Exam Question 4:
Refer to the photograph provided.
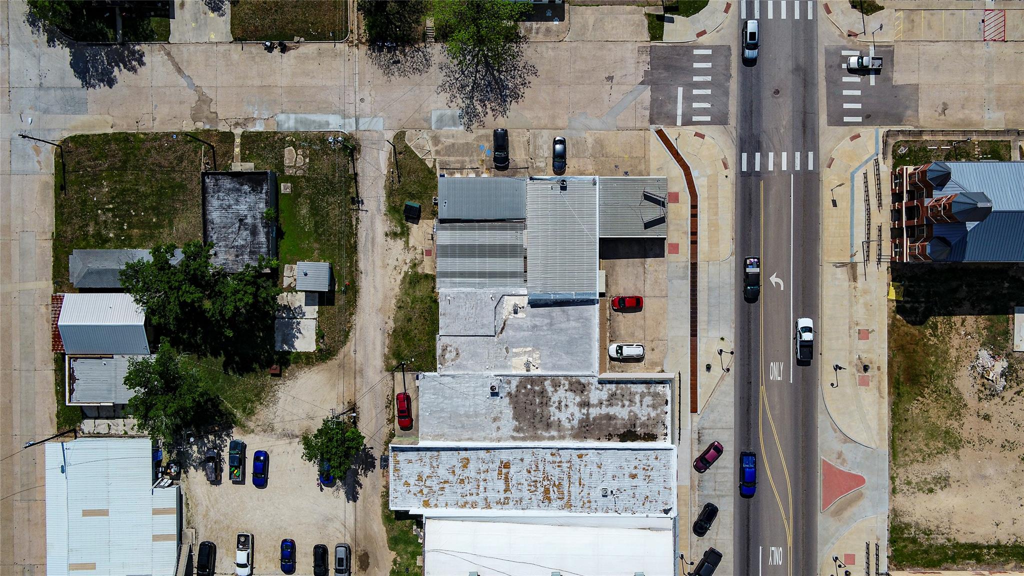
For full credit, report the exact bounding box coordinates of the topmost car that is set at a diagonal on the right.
[694,439,724,473]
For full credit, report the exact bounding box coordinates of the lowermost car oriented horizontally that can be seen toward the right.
[608,343,645,360]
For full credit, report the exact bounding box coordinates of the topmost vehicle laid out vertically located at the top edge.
[741,20,760,59]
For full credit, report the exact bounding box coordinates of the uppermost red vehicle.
[610,295,644,310]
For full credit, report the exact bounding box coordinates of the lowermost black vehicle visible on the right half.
[688,546,721,576]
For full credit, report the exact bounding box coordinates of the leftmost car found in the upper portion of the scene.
[492,128,510,169]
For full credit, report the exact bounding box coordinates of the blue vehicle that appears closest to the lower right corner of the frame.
[739,451,758,496]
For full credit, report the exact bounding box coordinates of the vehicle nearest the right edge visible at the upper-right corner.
[845,54,883,71]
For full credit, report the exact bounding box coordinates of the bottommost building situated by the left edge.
[46,433,185,576]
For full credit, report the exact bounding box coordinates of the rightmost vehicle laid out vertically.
[795,318,814,360]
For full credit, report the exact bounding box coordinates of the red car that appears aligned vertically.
[396,391,412,427]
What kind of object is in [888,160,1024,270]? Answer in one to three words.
building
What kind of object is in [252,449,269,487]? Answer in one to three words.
car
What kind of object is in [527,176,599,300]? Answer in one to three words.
building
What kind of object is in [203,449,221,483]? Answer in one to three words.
vehicle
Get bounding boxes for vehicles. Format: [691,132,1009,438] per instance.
[739,451,758,496]
[236,533,254,576]
[313,543,329,576]
[195,540,215,576]
[551,135,567,173]
[279,538,296,574]
[608,343,645,360]
[334,541,351,576]
[692,500,719,537]
[845,54,883,71]
[610,295,644,310]
[741,20,760,59]
[492,128,510,169]
[694,439,724,473]
[743,256,762,302]
[227,439,246,482]
[319,455,333,487]
[252,449,269,487]
[203,449,221,483]
[795,318,814,360]
[396,391,412,427]
[688,546,721,576]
